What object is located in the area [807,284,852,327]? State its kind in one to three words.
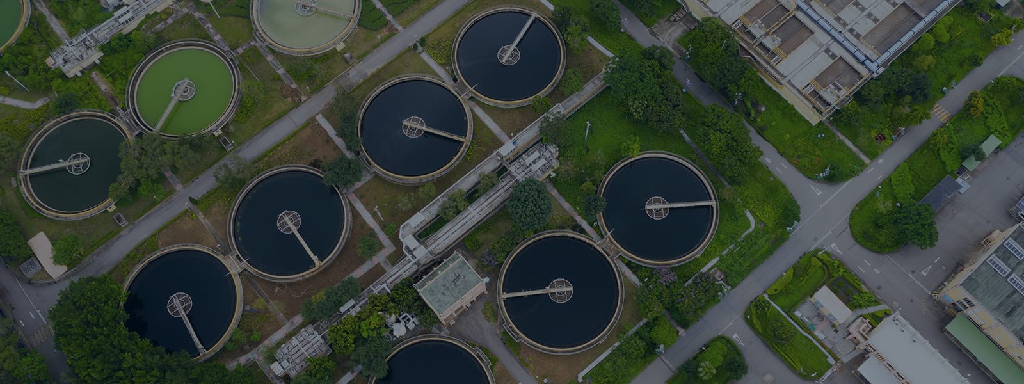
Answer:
building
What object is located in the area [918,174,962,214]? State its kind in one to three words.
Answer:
shed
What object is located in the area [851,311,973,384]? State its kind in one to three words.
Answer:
building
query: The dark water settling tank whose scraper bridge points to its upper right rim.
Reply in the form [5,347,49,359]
[451,4,567,109]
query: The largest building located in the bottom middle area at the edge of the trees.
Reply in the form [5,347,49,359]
[411,248,487,327]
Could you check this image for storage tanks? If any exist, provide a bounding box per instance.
[17,109,136,221]
[227,164,352,283]
[496,229,625,356]
[126,38,243,143]
[369,333,496,384]
[595,150,721,269]
[0,0,33,56]
[451,4,567,109]
[251,0,362,57]
[354,73,473,184]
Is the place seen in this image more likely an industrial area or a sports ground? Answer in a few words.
industrial area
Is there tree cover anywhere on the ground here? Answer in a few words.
Yes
